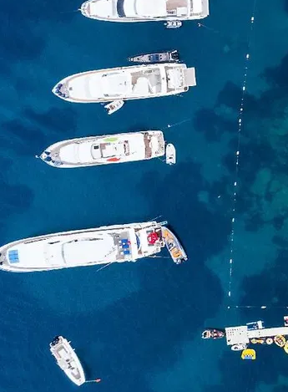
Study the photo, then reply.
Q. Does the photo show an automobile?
No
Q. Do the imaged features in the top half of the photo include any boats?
Yes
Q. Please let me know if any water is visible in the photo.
Yes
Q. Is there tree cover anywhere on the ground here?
No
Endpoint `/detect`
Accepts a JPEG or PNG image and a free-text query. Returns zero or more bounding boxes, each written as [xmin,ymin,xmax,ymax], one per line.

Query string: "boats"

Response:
[166,145,175,168]
[0,221,180,266]
[102,102,125,115]
[40,131,173,165]
[200,330,225,339]
[232,344,249,351]
[167,230,186,266]
[52,62,206,102]
[166,22,182,28]
[80,0,216,24]
[47,334,85,386]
